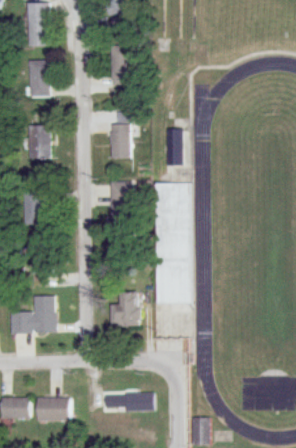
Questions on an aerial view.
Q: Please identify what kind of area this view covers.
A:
sports ground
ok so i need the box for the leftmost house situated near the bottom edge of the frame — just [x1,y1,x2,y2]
[0,397,31,426]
